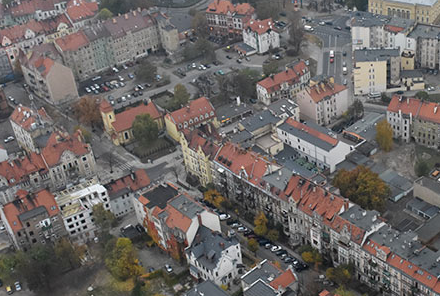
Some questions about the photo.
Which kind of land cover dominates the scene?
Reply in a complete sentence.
What you mostly see from above here is buildings.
